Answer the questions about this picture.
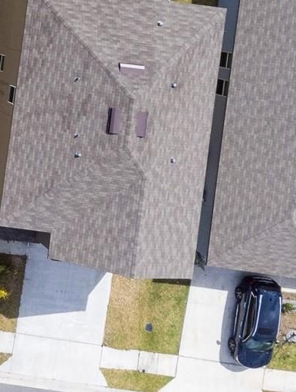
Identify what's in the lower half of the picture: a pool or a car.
car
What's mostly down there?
buildings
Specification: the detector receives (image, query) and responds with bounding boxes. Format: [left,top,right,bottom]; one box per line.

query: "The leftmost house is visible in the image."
[0,0,228,281]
